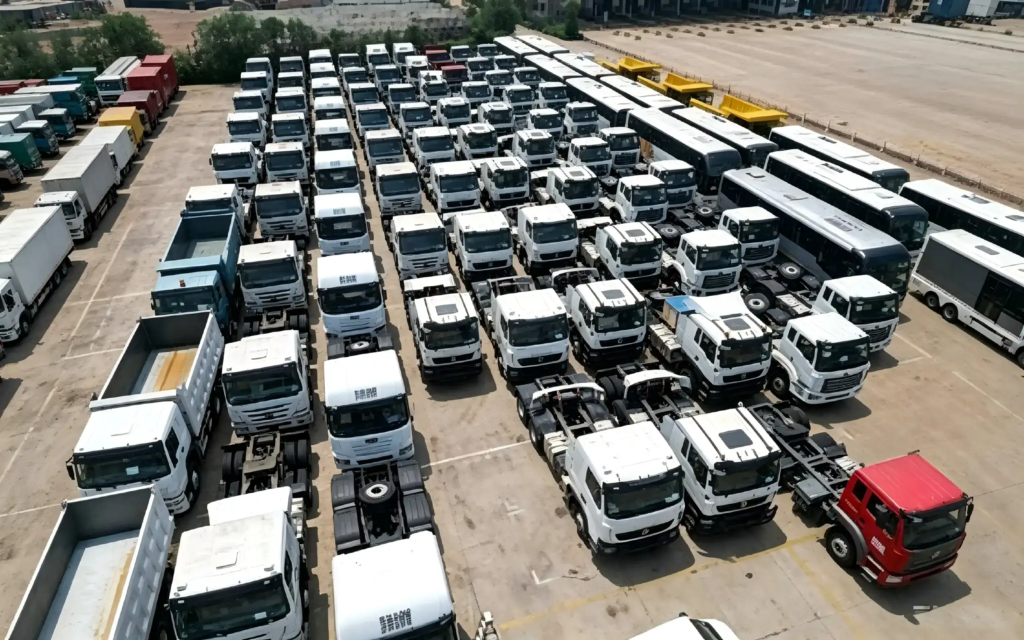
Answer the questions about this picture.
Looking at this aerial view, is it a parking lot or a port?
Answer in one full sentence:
What you see here is a parking lot.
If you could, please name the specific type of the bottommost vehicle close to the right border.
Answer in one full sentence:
The bottommost vehicle close to the right border in the image is a truck.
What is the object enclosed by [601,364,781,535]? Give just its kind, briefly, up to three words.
truck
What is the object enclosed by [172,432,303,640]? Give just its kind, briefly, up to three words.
truck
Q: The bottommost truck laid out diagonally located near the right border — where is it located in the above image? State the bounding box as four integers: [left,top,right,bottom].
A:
[738,399,986,584]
